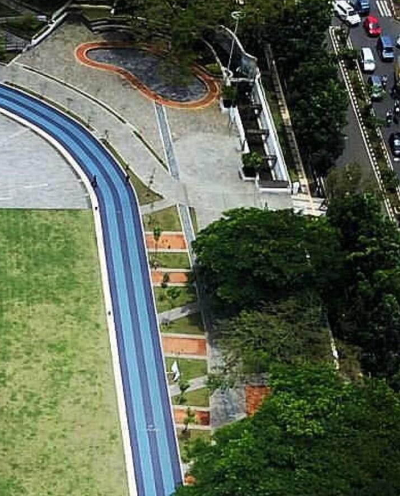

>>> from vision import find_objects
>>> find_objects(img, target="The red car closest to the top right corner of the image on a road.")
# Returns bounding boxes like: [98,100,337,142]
[364,16,382,35]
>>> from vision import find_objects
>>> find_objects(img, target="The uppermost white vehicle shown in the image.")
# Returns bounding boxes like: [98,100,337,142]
[334,1,361,25]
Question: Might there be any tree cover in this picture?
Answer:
Yes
